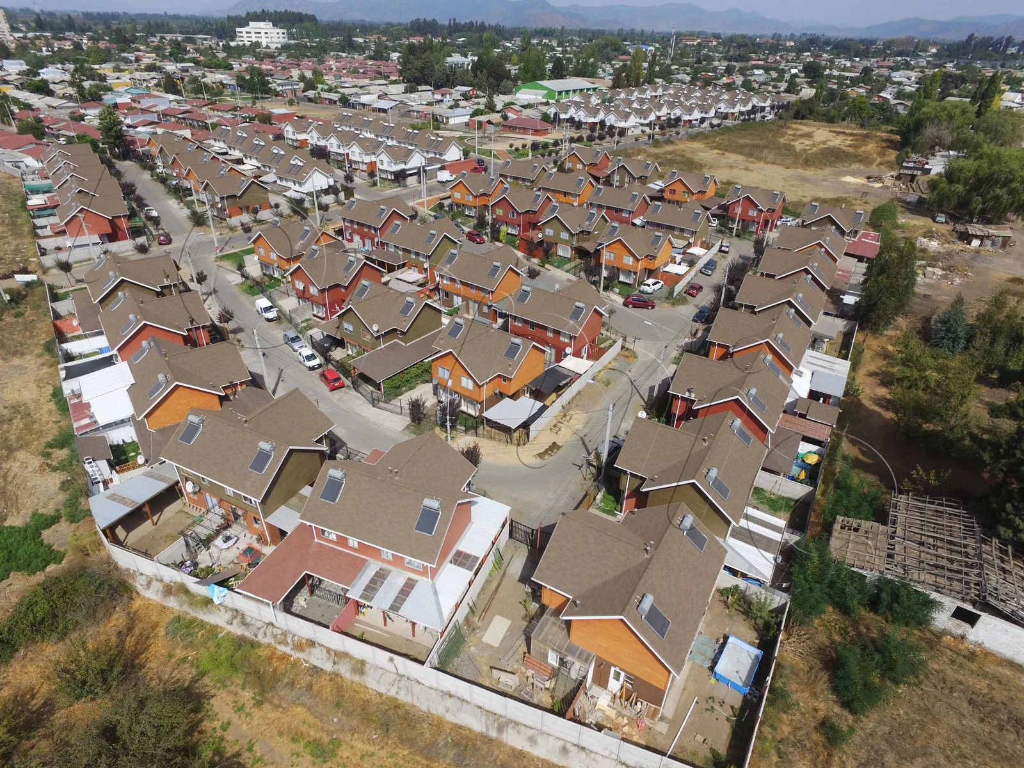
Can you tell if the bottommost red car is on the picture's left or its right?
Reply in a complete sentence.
The bottommost red car is on the left side of the image.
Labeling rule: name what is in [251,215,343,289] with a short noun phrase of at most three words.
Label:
house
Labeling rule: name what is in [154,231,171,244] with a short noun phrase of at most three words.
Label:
vehicle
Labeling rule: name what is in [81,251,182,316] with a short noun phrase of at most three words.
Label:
house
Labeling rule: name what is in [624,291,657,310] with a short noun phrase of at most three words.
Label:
car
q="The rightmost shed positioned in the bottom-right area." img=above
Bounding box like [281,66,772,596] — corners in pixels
[829,495,1024,668]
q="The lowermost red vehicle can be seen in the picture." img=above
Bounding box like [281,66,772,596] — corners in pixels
[315,361,348,390]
